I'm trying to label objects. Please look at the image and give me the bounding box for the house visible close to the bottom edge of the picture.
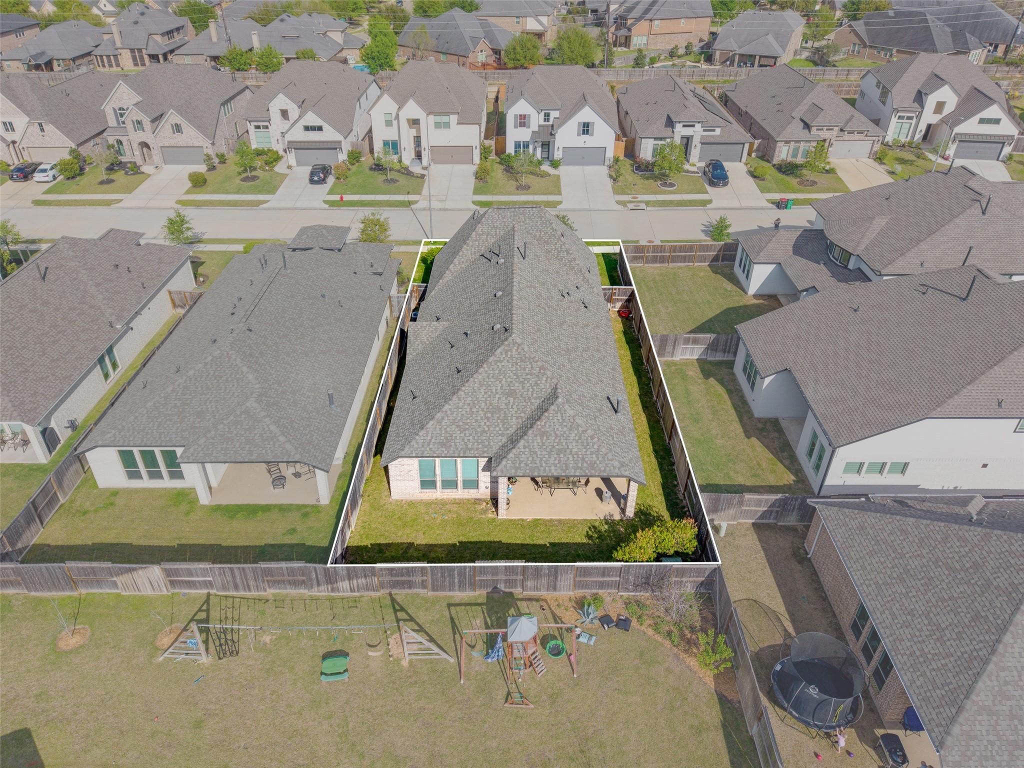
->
[814,481,1024,768]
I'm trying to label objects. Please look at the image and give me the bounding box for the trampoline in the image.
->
[771,632,876,747]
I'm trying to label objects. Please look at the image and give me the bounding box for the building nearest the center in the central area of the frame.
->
[382,204,648,519]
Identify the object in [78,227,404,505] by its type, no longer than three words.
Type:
house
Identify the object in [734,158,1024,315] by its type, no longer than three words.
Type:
house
